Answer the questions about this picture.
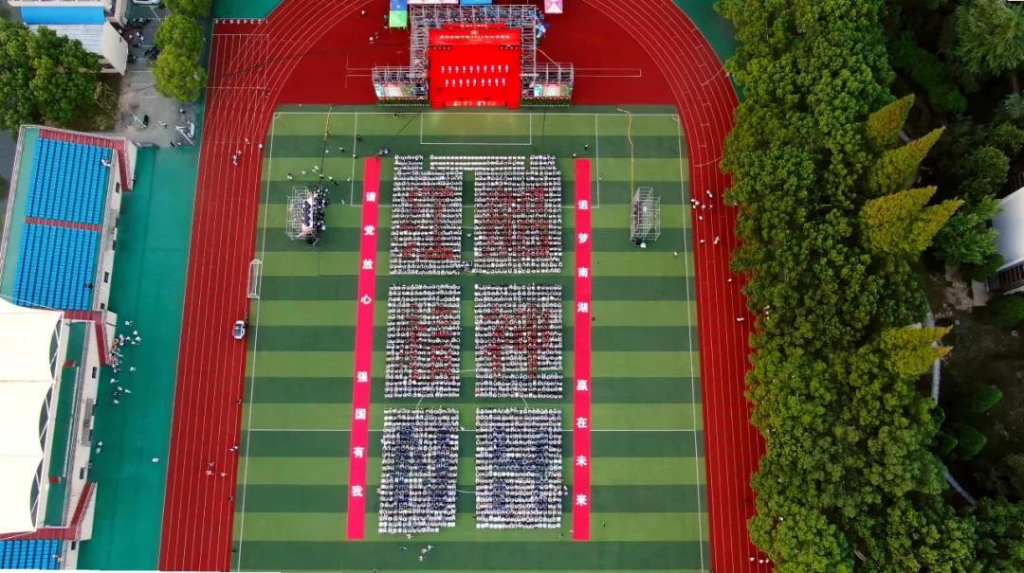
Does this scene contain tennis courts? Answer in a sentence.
No, the frame has no tennis court in it.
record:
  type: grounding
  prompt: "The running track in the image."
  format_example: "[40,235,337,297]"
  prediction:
[157,0,777,573]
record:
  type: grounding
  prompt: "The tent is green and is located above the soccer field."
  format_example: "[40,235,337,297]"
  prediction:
[389,13,409,37]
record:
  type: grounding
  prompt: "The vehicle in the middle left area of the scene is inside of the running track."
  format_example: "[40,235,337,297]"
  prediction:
[232,319,247,340]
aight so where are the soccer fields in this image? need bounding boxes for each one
[230,105,711,573]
